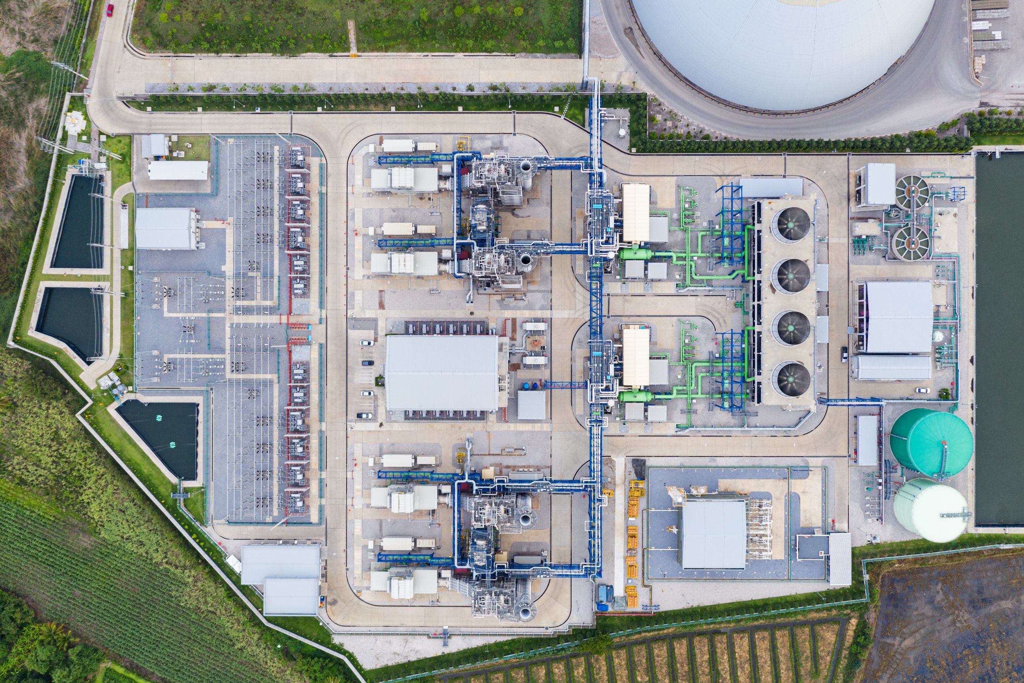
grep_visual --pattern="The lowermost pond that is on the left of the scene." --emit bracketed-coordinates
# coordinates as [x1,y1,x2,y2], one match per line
[107,393,203,487]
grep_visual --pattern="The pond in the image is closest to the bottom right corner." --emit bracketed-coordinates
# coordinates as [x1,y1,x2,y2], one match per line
[970,150,1024,533]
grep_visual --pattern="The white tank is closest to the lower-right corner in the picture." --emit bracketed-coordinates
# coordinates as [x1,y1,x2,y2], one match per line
[884,474,966,544]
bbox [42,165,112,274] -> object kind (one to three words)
pond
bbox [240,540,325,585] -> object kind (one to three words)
building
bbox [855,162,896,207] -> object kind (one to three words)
building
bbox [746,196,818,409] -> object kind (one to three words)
cooling tower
